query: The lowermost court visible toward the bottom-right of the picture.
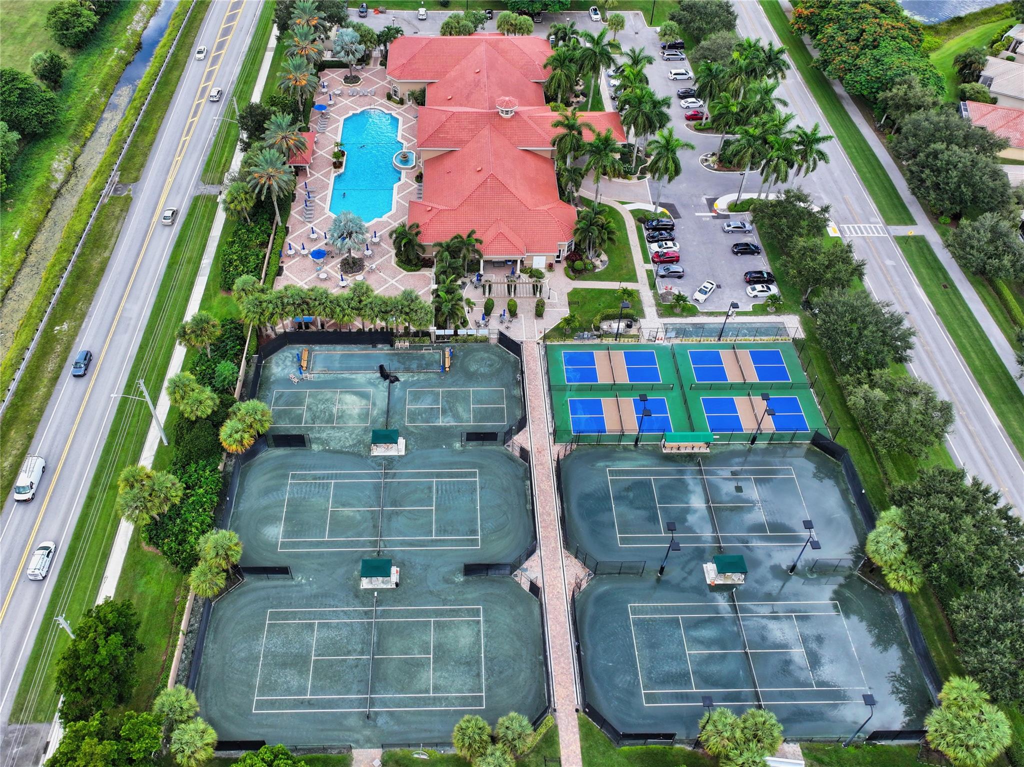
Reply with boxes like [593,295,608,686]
[576,571,928,741]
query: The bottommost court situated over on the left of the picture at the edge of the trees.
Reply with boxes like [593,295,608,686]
[188,576,550,750]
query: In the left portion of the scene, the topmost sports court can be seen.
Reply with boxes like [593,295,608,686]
[245,343,526,449]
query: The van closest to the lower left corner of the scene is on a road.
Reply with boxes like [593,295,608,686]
[26,540,57,579]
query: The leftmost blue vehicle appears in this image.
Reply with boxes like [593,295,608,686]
[72,348,94,376]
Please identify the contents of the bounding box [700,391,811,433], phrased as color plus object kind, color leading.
blue sports court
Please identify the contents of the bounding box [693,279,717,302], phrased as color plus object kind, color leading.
white car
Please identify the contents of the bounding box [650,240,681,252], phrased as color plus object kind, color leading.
white vehicle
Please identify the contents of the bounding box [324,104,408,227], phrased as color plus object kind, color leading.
blue swimming pool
